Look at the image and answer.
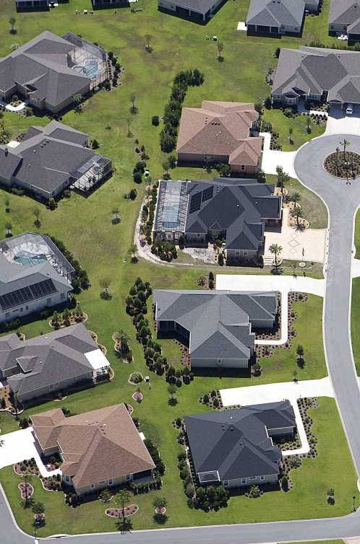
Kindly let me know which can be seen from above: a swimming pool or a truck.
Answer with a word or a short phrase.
swimming pool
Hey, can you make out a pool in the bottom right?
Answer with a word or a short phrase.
No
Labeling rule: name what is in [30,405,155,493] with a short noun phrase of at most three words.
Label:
house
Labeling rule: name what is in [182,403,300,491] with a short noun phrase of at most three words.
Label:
house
